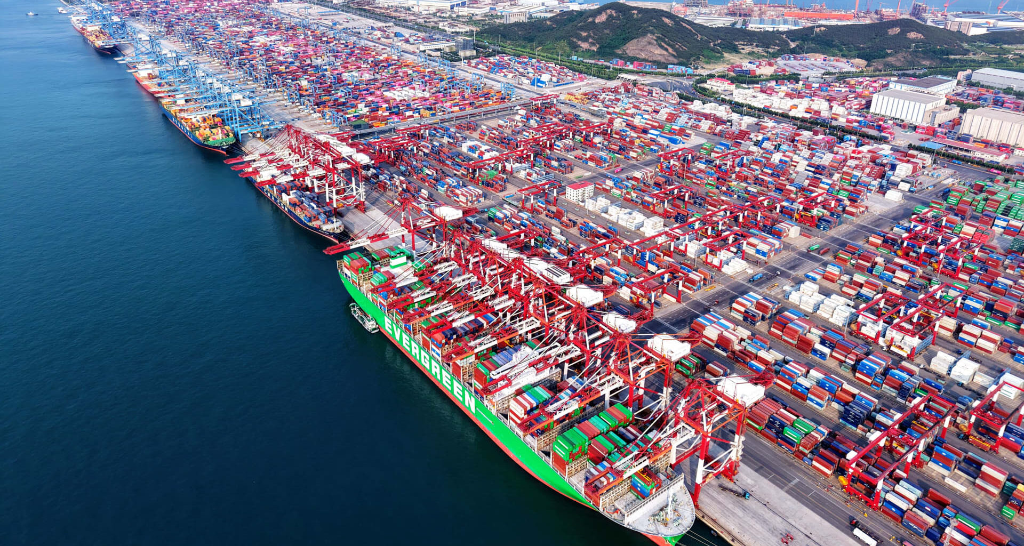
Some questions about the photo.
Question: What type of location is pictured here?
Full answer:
This image shows a port.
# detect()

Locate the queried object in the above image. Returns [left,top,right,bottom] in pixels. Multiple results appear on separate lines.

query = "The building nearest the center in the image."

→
[569,180,599,203]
